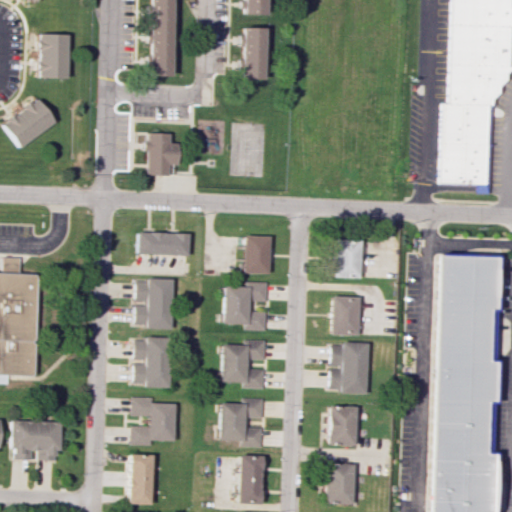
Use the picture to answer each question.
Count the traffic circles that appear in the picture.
0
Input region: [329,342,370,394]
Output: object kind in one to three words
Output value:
house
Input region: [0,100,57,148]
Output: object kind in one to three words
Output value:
building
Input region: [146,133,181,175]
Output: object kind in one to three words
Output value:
building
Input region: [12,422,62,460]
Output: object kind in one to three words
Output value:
house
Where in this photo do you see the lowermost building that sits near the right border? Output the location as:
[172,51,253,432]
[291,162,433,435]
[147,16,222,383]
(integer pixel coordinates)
[431,254,504,512]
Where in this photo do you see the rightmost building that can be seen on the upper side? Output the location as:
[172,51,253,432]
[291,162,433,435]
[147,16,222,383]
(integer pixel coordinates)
[438,0,512,194]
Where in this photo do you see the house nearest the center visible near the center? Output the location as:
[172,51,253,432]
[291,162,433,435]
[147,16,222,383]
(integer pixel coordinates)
[244,236,270,274]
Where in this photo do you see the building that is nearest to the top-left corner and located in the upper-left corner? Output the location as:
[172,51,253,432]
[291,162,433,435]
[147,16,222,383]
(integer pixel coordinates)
[36,34,70,79]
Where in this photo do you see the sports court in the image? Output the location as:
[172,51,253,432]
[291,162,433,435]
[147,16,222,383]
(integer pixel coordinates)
[231,123,264,178]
